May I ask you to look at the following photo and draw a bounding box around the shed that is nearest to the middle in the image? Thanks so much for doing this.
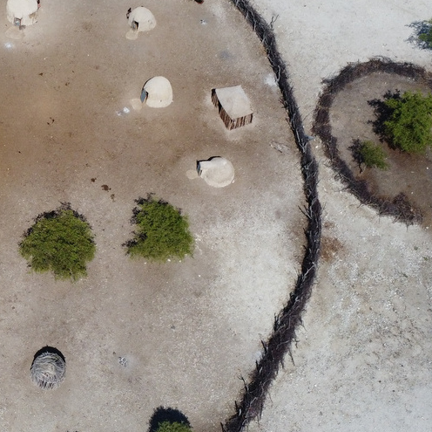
[187,158,236,189]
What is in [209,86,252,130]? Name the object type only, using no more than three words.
shed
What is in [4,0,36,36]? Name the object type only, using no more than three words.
shed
